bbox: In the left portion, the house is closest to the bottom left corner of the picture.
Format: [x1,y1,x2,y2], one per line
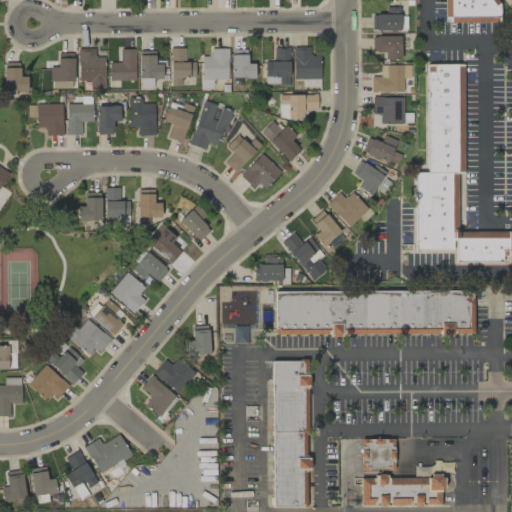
[4,471,27,503]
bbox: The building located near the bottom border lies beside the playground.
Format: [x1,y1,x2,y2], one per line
[274,360,314,507]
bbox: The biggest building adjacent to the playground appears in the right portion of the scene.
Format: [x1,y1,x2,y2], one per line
[278,290,478,338]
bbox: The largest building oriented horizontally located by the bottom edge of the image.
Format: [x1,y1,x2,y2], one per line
[364,475,446,507]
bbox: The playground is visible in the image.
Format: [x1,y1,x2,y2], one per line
[222,291,274,336]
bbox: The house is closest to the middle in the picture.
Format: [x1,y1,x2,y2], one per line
[256,254,292,285]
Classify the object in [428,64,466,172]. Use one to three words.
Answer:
building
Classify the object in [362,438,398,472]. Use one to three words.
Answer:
building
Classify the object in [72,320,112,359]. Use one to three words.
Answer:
house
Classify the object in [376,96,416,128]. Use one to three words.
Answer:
house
